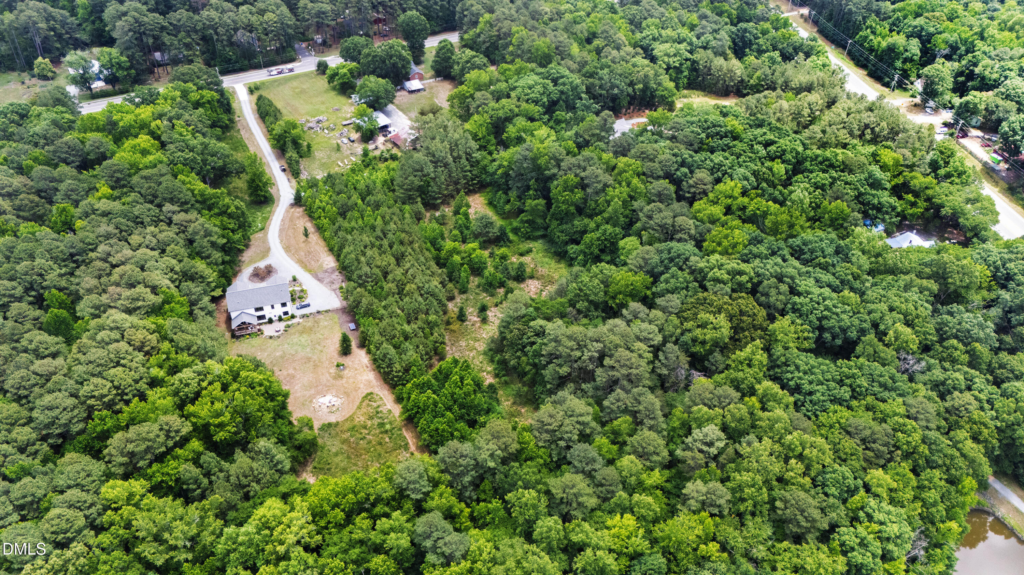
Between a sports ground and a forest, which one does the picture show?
forest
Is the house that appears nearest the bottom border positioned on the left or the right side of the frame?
left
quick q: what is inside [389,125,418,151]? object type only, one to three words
barn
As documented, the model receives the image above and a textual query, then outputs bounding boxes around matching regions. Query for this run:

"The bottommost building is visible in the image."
[225,274,292,336]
